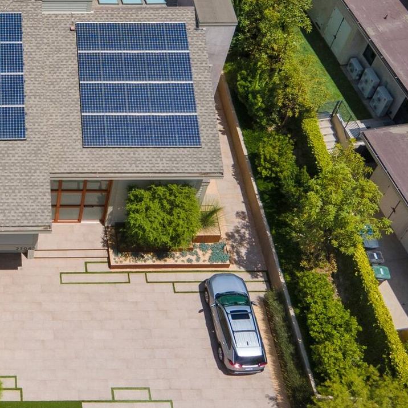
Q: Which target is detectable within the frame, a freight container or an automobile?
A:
automobile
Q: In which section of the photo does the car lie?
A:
bottom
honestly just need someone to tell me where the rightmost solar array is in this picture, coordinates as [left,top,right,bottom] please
[77,22,201,147]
